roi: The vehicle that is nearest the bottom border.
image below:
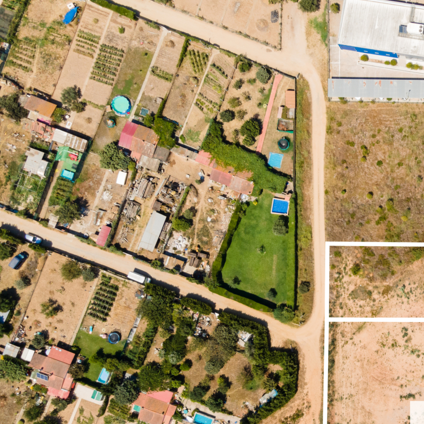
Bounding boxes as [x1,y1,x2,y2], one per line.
[125,271,151,284]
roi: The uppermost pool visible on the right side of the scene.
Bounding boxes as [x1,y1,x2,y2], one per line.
[268,152,284,169]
